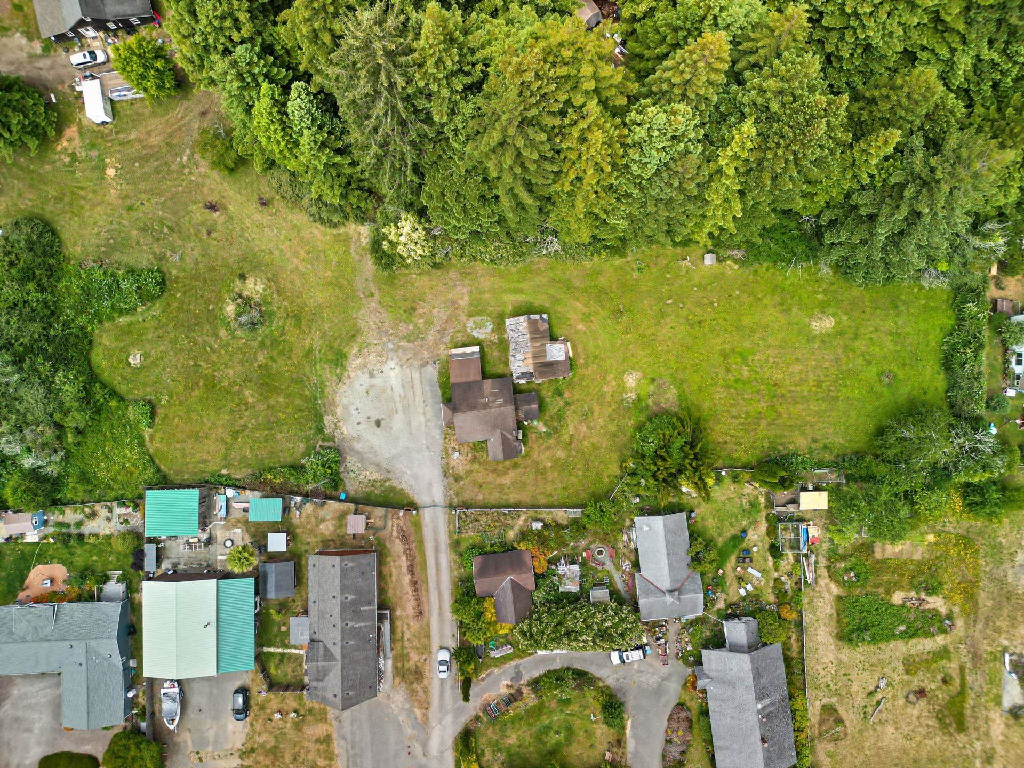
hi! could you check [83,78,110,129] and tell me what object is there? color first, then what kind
white trailer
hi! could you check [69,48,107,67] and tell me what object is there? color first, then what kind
white car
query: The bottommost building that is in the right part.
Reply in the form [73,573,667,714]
[692,615,797,768]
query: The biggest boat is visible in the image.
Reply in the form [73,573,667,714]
[160,682,178,731]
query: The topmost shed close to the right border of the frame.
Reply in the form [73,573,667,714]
[989,300,1012,314]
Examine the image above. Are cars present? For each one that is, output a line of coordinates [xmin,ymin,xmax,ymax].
[69,48,107,67]
[611,647,646,665]
[232,689,248,719]
[436,648,451,679]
